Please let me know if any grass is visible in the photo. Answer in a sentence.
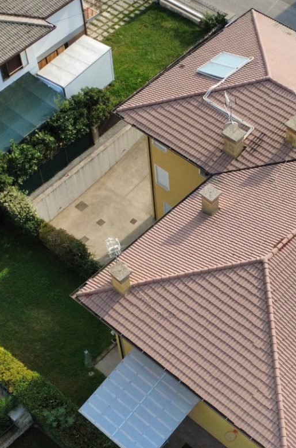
Yes, grass can be seen from above here.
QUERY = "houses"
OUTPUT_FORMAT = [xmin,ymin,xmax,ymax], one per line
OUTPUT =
[0,0,108,134]
[69,9,296,448]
